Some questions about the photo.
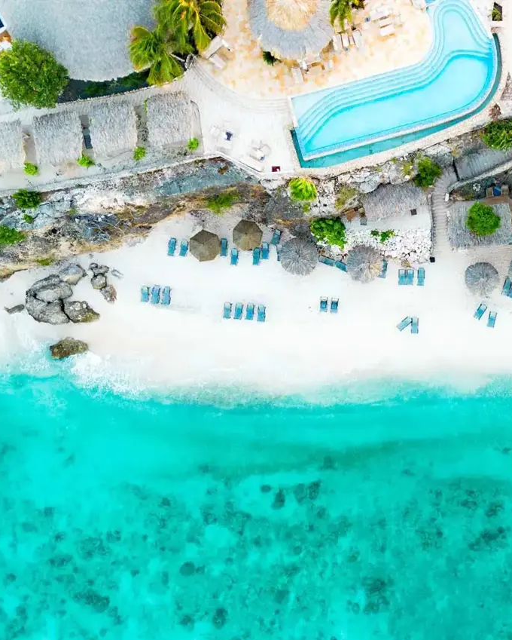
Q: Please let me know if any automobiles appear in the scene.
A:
No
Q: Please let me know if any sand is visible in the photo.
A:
Yes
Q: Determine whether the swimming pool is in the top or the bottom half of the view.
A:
top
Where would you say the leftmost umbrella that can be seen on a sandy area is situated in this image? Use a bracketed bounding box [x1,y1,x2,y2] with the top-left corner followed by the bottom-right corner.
[189,230,220,262]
